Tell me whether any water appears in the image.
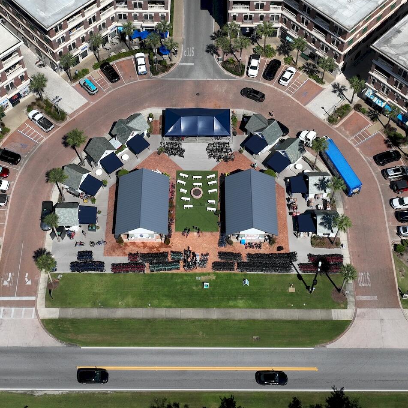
No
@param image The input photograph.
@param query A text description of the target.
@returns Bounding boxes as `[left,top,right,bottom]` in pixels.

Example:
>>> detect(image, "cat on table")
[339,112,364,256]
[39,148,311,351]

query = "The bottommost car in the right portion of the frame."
[255,370,288,386]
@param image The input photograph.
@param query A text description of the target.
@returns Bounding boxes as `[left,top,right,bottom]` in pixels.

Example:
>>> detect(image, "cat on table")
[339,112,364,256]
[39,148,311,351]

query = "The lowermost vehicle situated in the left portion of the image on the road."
[77,368,110,384]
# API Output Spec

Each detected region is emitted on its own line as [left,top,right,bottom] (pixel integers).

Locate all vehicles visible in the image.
[397,226,408,237]
[0,150,23,166]
[255,370,288,386]
[373,150,402,166]
[135,54,148,75]
[27,109,55,133]
[382,165,408,180]
[390,179,408,193]
[264,58,281,81]
[248,54,259,78]
[280,124,295,142]
[294,131,322,149]
[240,87,266,105]
[39,201,52,231]
[0,195,8,207]
[78,77,99,97]
[280,66,295,87]
[0,180,11,193]
[77,368,110,384]
[0,166,11,180]
[390,196,408,210]
[99,60,122,84]
[395,211,408,224]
